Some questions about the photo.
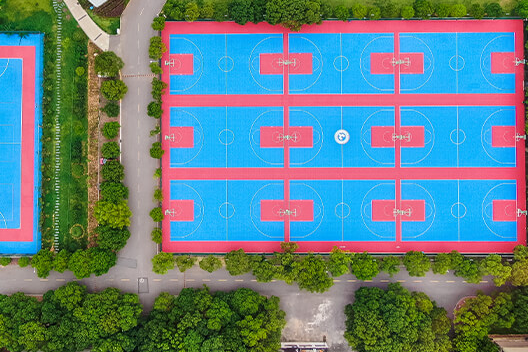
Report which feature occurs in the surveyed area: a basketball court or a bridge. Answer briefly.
basketball court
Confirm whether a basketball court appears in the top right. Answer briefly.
Yes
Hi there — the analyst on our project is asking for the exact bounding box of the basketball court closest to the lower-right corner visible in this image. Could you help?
[401,180,518,241]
